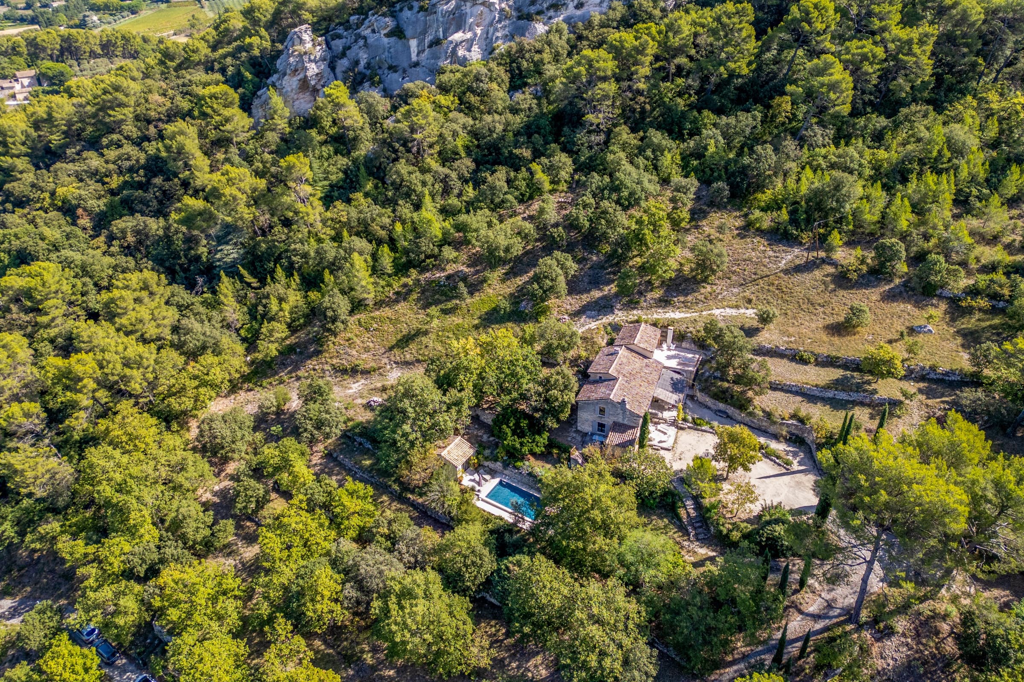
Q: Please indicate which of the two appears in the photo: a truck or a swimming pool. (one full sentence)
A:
The one in the frame is a swimming pool.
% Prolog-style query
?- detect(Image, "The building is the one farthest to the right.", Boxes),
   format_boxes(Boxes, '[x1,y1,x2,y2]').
[575,322,705,460]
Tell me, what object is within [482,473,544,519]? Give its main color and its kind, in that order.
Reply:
blue swimming pool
